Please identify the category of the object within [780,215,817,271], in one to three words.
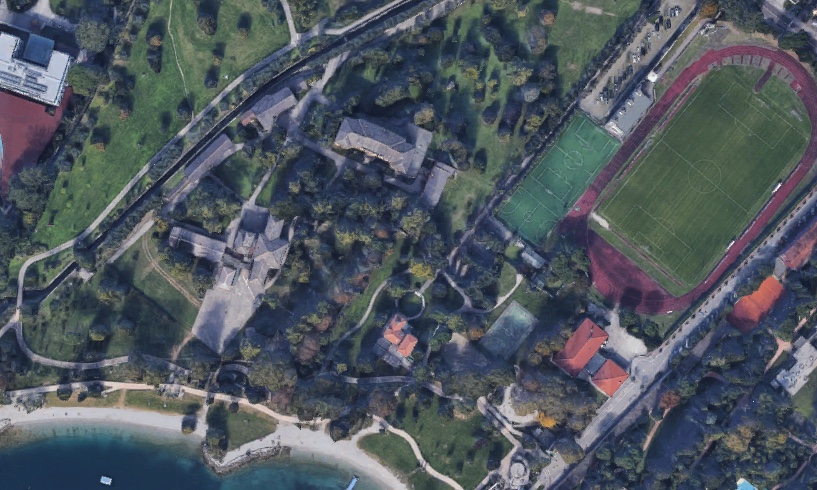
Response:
house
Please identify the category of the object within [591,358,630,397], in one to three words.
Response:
house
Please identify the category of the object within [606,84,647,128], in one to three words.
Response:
building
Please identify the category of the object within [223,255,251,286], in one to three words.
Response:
building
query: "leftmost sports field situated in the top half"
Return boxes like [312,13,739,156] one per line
[498,112,622,246]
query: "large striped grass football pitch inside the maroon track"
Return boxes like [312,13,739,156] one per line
[590,66,815,296]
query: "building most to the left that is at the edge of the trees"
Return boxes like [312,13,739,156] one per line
[0,33,74,105]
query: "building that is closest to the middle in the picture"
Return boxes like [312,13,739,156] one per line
[420,163,457,208]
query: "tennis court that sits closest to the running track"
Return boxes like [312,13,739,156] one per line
[480,301,538,359]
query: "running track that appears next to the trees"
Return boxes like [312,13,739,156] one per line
[558,42,817,314]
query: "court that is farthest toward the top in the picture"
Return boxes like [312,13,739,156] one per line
[0,86,74,197]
